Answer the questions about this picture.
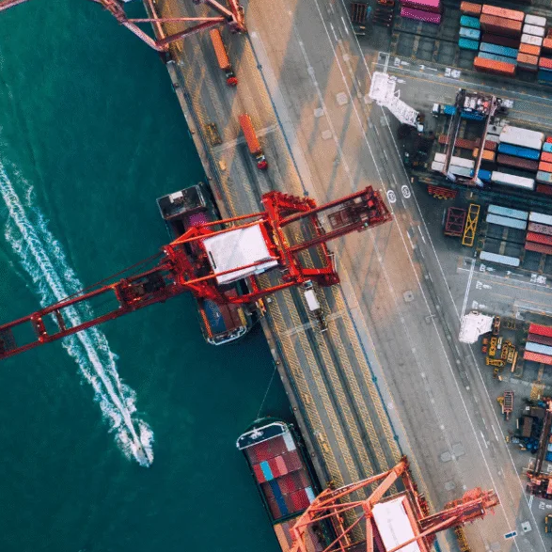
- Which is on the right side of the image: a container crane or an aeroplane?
container crane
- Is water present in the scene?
Yes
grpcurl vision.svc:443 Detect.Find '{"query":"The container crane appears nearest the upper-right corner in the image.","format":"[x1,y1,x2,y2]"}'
[440,85,504,192]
